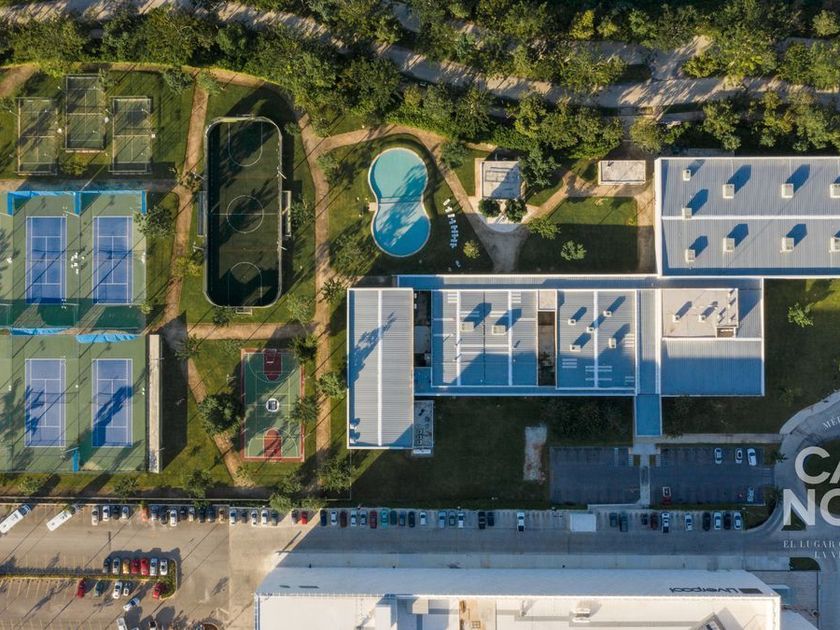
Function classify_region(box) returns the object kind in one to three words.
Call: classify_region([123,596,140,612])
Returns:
car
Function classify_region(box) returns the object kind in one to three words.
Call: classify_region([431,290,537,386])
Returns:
building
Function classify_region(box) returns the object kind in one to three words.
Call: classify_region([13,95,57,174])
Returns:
sports court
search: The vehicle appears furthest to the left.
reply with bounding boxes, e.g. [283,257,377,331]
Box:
[0,500,38,535]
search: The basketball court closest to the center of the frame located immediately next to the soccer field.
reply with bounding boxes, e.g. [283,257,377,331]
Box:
[241,349,304,462]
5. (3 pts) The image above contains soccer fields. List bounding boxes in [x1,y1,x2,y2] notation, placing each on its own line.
[203,114,281,306]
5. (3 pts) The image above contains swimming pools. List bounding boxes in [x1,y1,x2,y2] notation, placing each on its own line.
[367,147,432,258]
